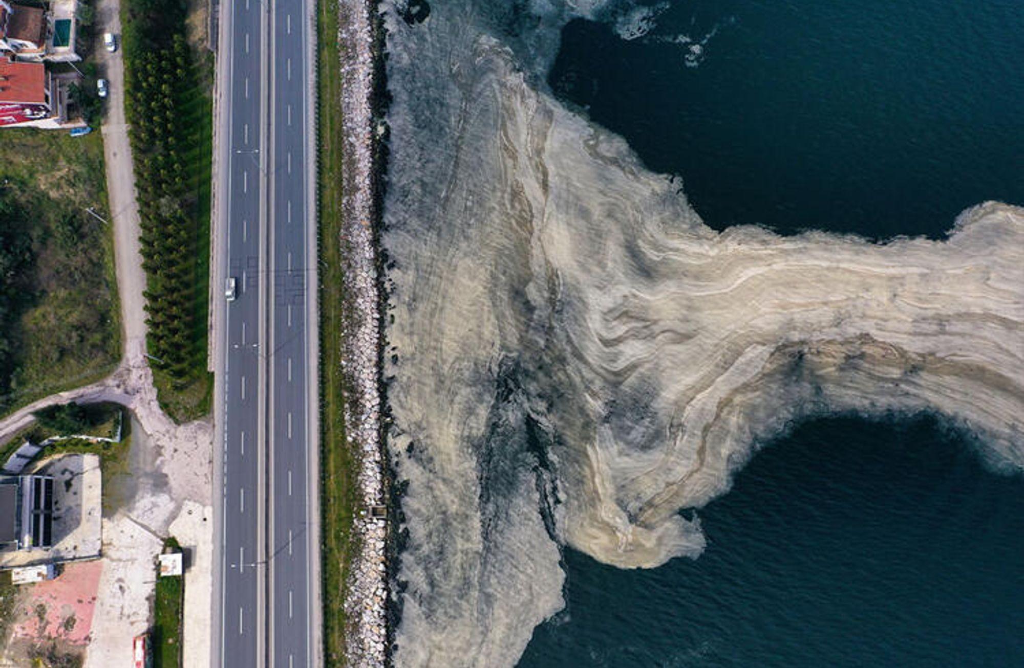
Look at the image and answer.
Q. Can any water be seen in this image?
Yes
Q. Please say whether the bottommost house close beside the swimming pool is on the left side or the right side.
left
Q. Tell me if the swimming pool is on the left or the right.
left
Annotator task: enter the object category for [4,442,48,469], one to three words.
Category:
shed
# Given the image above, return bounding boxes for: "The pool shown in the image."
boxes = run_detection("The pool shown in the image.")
[43,0,82,62]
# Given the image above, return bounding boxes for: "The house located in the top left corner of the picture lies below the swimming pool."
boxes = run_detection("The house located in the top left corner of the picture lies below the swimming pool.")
[0,61,81,134]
